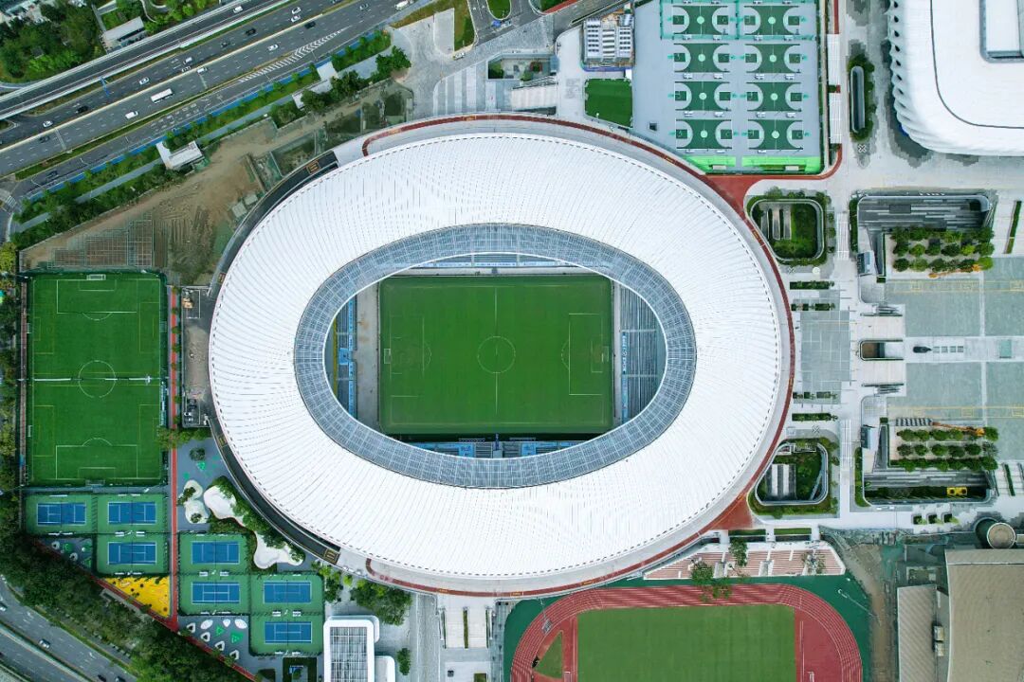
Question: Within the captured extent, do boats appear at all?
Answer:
No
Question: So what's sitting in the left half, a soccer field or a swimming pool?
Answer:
soccer field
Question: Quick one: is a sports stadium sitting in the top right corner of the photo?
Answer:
Yes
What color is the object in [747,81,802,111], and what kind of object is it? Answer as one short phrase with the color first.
green basketball court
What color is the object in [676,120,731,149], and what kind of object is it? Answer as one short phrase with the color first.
green basketball court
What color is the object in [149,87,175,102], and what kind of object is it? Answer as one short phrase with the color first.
white vehicle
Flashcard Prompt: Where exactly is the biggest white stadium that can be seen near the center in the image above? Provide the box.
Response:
[210,132,779,579]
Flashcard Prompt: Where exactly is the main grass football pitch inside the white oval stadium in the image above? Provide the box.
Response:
[378,275,612,434]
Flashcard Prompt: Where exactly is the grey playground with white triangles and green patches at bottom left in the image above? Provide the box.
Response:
[178,617,259,677]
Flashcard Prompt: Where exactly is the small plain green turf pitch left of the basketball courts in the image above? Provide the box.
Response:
[585,78,632,127]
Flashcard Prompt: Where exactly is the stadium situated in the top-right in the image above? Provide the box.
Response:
[891,0,1024,152]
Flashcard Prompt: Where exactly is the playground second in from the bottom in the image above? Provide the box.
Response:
[104,576,170,619]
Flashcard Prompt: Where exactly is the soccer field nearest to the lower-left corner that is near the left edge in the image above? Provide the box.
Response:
[25,273,162,486]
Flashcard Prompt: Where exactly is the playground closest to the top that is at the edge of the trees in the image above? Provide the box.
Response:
[39,536,92,572]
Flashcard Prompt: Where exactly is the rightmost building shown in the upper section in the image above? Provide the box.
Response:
[854,251,873,275]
